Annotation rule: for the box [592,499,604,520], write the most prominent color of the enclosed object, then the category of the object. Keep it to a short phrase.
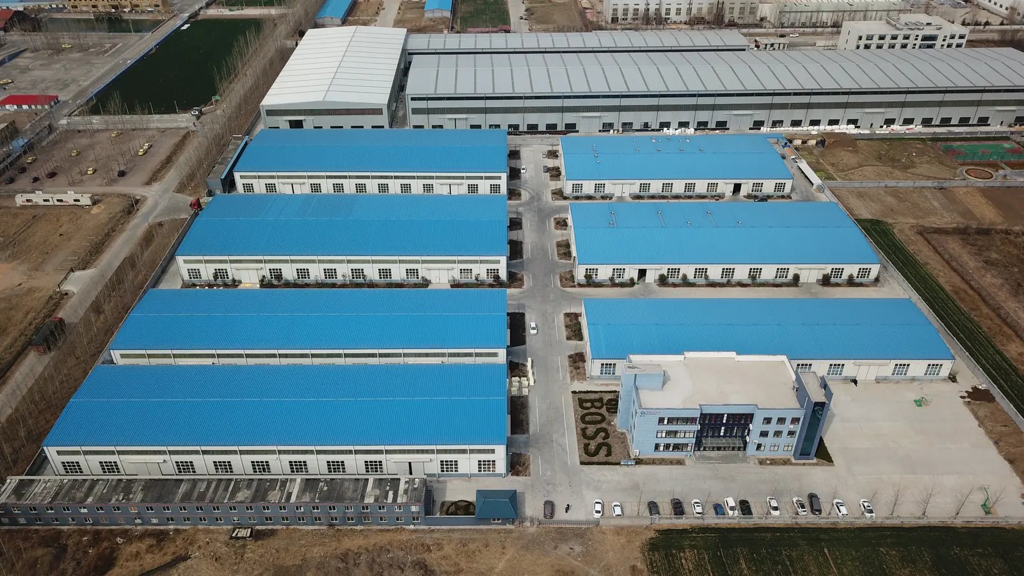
white vehicle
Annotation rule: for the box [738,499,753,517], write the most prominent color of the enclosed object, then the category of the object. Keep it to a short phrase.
black car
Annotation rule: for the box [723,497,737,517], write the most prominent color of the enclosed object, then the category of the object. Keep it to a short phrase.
white car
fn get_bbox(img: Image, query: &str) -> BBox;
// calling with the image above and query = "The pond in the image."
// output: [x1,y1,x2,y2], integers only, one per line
[33,17,163,33]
